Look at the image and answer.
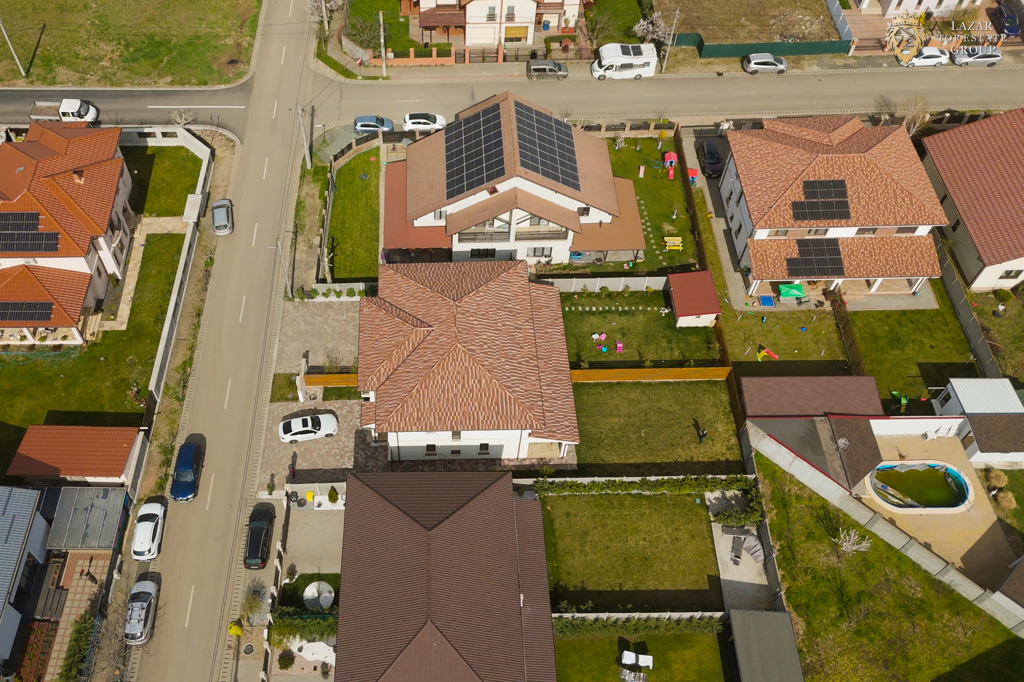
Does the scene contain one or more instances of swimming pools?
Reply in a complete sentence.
Yes, looking at the shot, I can spot a swimming pool.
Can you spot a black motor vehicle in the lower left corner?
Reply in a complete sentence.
Yes, in the lower left corner there is a black motor vehicle.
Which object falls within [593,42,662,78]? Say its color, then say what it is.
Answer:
white camper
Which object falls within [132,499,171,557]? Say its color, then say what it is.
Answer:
white car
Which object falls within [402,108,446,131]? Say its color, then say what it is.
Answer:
white car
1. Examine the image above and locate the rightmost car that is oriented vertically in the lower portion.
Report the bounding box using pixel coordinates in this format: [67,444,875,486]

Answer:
[244,502,282,566]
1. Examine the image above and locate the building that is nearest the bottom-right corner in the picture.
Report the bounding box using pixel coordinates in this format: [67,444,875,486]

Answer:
[989,553,1024,624]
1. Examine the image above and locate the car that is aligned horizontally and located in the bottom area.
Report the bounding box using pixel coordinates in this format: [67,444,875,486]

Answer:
[279,409,342,442]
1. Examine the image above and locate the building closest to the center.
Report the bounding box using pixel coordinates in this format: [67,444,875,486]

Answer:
[356,260,578,465]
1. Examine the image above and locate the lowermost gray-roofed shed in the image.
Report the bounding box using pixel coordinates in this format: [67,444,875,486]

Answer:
[726,609,805,682]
